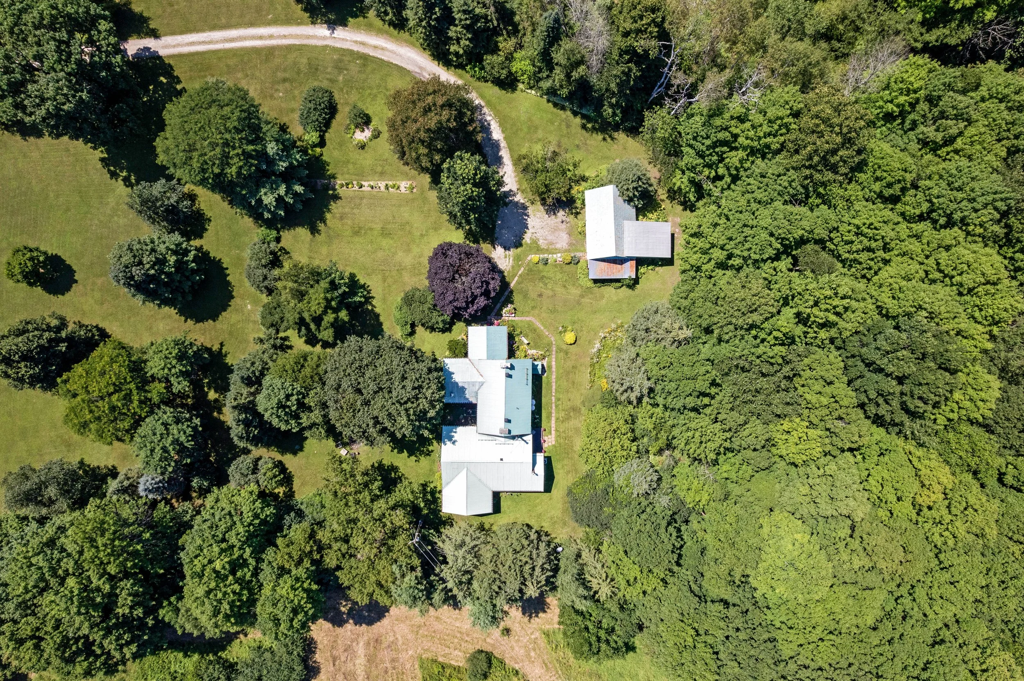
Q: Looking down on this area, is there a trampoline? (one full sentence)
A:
No, the scene contains no trampoline.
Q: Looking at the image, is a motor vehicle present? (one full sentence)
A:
No, the frame has no motor vehicle in it.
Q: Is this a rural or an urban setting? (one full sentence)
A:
The land in this view is best described as rural.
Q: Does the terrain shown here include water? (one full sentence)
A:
No, water can't be seen anywhere here.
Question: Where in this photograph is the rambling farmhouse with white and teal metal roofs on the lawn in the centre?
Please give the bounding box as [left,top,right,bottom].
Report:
[441,326,547,516]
